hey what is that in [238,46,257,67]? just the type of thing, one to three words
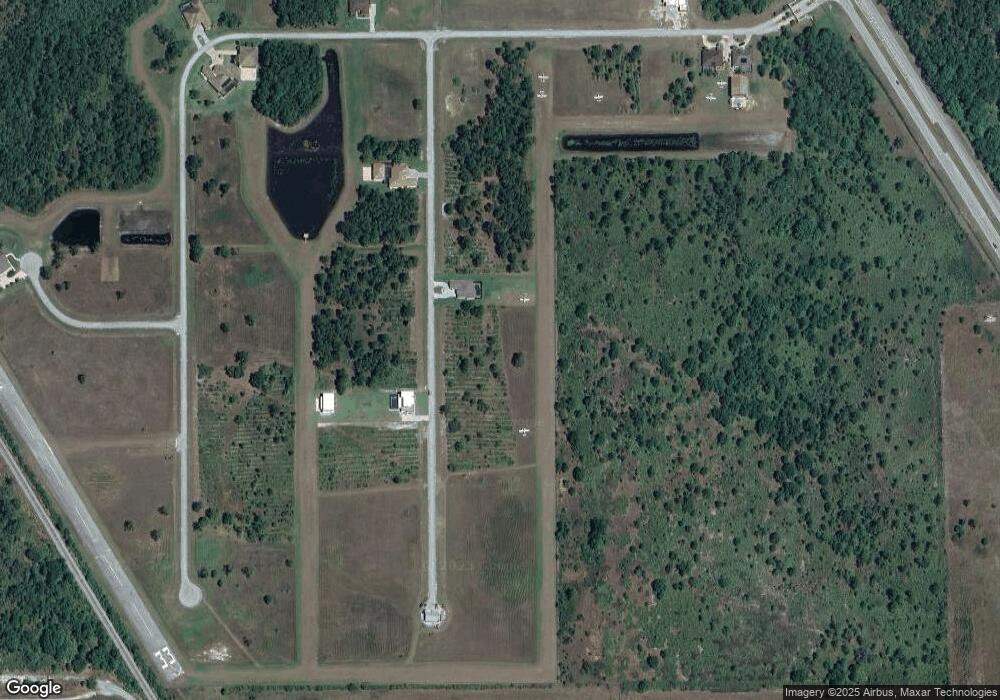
hangar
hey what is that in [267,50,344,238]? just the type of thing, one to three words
pond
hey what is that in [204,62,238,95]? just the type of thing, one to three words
house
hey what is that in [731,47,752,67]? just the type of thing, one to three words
house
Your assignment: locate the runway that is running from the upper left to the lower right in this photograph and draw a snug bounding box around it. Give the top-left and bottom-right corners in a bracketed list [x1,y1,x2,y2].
[0,368,185,681]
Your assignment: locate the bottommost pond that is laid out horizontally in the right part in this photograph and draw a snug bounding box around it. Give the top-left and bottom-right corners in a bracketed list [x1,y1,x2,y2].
[562,134,699,151]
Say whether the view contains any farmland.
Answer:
Yes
